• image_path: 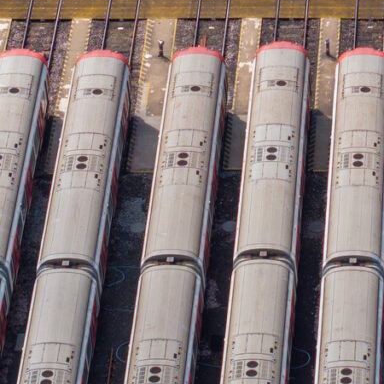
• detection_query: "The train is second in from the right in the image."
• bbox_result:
[219,43,313,384]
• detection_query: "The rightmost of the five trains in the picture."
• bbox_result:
[314,49,384,384]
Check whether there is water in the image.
No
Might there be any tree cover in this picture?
No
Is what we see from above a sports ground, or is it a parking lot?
parking lot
